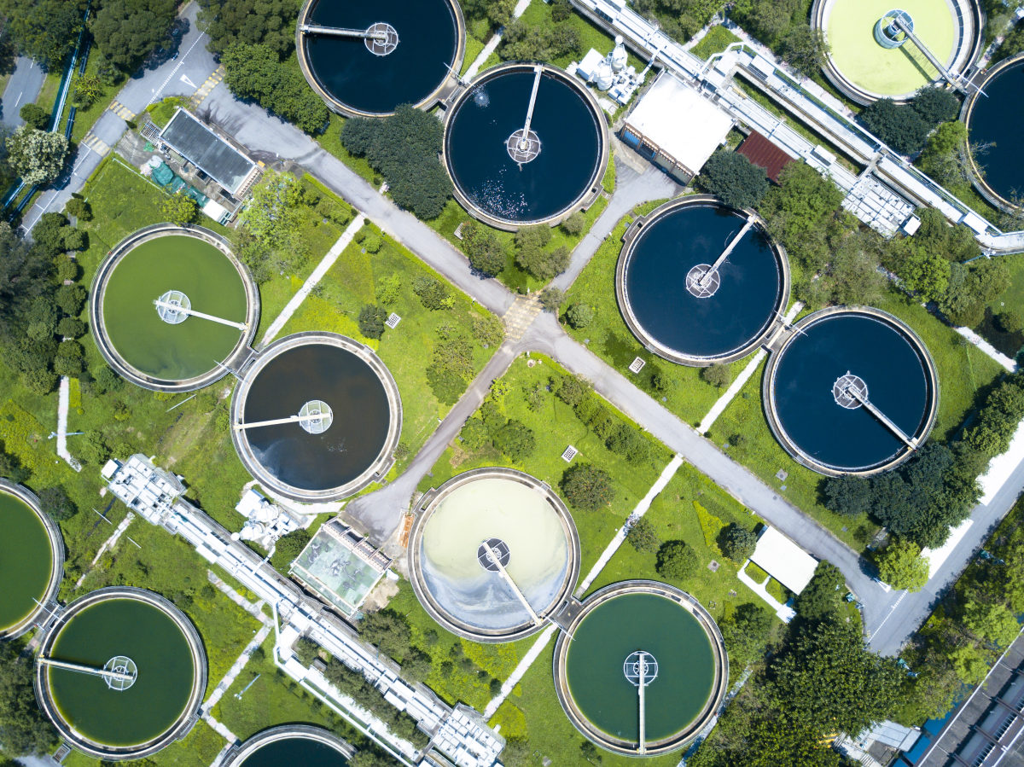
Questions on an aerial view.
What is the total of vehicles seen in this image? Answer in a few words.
1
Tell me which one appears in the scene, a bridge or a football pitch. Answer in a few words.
bridge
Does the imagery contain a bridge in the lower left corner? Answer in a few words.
Yes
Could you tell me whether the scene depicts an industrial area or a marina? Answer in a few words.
industrial area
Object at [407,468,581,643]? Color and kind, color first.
white storage tank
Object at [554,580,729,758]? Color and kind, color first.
green storage tank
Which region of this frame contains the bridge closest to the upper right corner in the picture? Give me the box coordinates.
[895,13,961,86]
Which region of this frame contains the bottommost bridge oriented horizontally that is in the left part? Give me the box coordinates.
[32,650,134,684]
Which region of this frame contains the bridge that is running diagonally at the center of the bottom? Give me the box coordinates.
[483,543,547,627]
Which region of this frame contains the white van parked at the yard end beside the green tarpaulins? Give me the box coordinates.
[197,195,232,226]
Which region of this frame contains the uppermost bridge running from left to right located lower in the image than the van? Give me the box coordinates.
[152,300,254,336]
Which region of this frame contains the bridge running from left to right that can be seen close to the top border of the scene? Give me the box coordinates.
[296,21,385,38]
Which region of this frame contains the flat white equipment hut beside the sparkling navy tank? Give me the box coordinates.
[577,48,604,82]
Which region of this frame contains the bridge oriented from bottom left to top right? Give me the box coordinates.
[699,212,762,284]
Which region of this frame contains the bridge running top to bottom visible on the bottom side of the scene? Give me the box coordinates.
[633,657,650,757]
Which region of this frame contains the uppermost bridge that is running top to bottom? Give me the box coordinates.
[522,60,547,150]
